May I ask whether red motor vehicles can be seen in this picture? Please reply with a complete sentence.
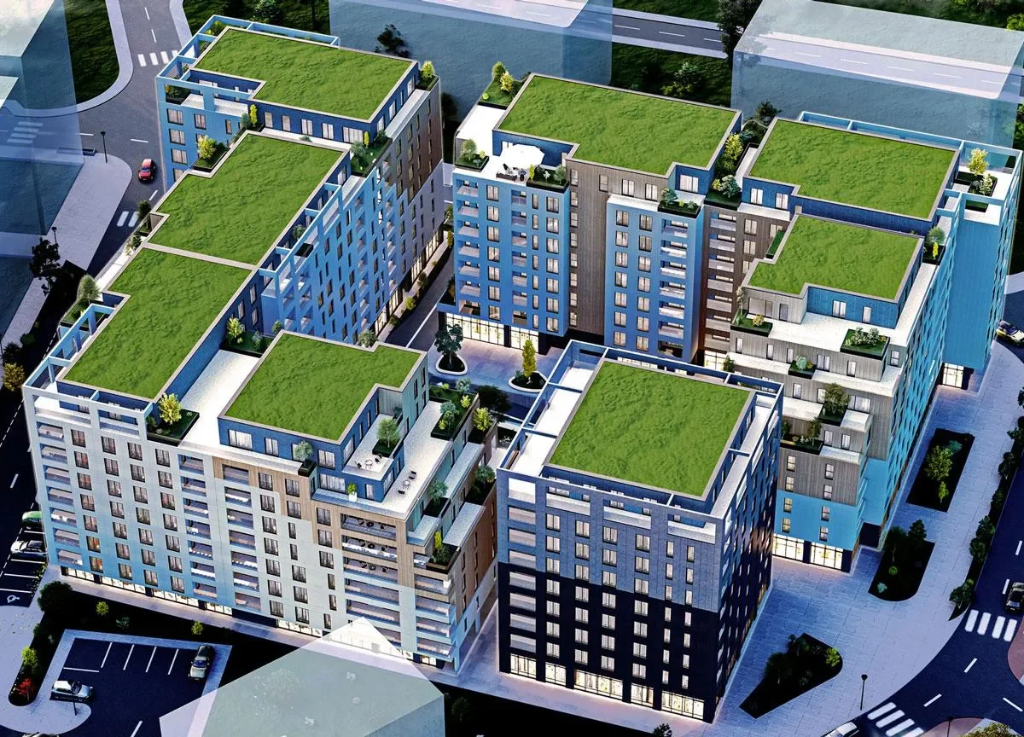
Yes, a red motor vehicle is visible in the scene.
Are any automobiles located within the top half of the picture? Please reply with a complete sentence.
Yes, there is an automobile within the top half of the picture.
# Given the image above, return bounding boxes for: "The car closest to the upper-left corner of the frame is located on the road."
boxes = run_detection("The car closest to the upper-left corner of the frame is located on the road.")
[138,161,155,180]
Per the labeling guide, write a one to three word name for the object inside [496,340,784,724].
building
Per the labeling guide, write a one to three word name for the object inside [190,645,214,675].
car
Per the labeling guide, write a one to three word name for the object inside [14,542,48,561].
car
